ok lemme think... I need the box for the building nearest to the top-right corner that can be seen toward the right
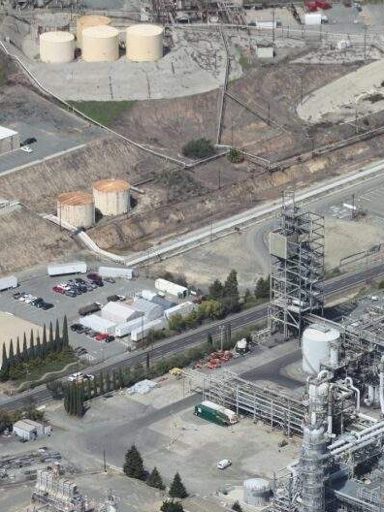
[251,45,278,63]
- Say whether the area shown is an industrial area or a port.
industrial area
